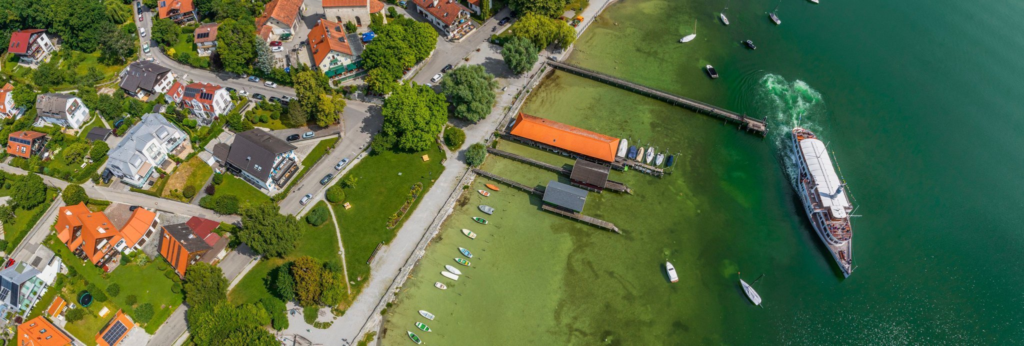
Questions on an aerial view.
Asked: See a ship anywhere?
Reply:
Yes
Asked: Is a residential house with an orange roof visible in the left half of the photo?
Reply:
Yes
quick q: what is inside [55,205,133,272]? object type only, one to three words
house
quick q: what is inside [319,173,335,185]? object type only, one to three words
vehicle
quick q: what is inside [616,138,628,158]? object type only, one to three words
boat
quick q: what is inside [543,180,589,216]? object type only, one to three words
building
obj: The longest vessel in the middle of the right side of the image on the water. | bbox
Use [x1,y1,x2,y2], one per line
[789,118,856,278]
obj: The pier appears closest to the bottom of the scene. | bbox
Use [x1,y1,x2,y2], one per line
[541,204,621,233]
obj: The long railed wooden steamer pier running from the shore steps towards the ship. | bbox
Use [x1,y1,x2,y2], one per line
[546,57,743,123]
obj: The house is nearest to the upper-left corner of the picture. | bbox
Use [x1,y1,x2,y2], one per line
[5,28,53,65]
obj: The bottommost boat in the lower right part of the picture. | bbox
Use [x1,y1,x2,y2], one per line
[740,274,762,306]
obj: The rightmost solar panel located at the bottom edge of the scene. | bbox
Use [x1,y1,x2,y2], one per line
[99,319,133,346]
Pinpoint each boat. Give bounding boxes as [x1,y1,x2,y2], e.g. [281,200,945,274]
[637,147,644,162]
[435,269,459,282]
[679,19,696,43]
[445,264,463,275]
[435,282,448,291]
[740,274,762,306]
[666,261,679,284]
[459,247,474,259]
[419,310,435,321]
[458,226,477,240]
[646,146,656,164]
[483,183,500,192]
[667,155,674,167]
[720,1,731,26]
[478,205,495,215]
[449,256,471,267]
[627,145,637,160]
[406,330,422,345]
[769,0,783,25]
[616,138,628,158]
[743,39,757,51]
[415,321,432,332]
[706,65,720,80]
[656,151,664,166]
[471,216,488,225]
